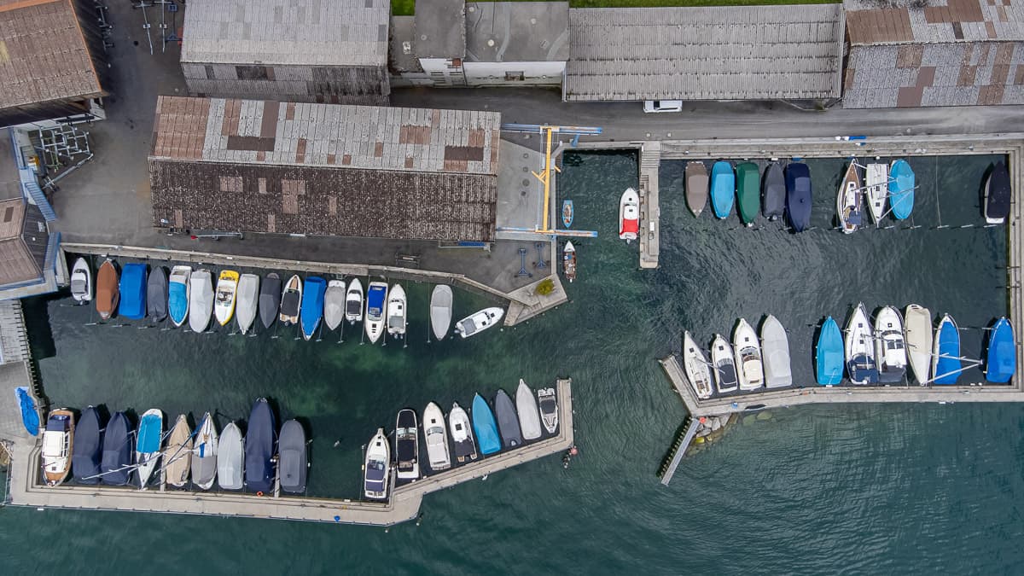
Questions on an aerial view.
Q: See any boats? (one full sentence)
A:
Yes, I can see a boat in this picture.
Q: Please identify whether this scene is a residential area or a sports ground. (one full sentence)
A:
What you see here is a residential area.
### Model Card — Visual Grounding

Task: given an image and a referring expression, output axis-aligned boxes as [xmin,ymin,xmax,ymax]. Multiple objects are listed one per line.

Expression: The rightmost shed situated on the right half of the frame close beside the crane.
[564,4,846,103]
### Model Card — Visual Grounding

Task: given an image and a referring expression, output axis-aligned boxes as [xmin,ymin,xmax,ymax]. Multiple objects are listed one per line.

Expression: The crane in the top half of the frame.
[497,125,603,242]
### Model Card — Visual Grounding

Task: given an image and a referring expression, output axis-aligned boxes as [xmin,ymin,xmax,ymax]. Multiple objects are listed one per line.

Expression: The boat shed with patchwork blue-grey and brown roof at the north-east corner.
[831,0,1024,109]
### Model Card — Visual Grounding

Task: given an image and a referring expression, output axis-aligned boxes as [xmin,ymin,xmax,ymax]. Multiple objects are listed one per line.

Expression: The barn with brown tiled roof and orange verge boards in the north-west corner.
[0,0,118,130]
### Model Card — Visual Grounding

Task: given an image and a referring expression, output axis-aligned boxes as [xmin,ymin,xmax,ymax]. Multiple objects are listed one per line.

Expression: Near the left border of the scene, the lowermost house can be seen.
[0,197,61,301]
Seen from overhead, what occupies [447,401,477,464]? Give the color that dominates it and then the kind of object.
white boat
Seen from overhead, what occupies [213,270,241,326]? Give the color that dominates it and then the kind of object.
white boat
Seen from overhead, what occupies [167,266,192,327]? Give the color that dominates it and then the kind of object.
blue boat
